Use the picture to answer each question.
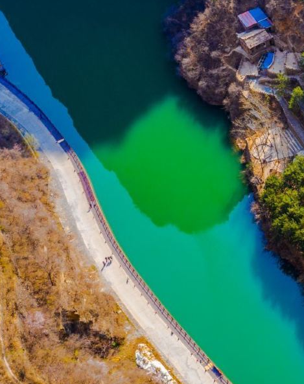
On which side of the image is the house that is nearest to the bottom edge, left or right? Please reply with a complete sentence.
The house that is nearest to the bottom edge appears in the right half of the scene.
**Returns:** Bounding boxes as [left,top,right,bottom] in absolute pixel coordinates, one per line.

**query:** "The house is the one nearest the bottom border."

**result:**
[236,29,274,52]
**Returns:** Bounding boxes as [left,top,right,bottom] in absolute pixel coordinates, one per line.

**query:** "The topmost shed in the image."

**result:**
[237,7,274,31]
